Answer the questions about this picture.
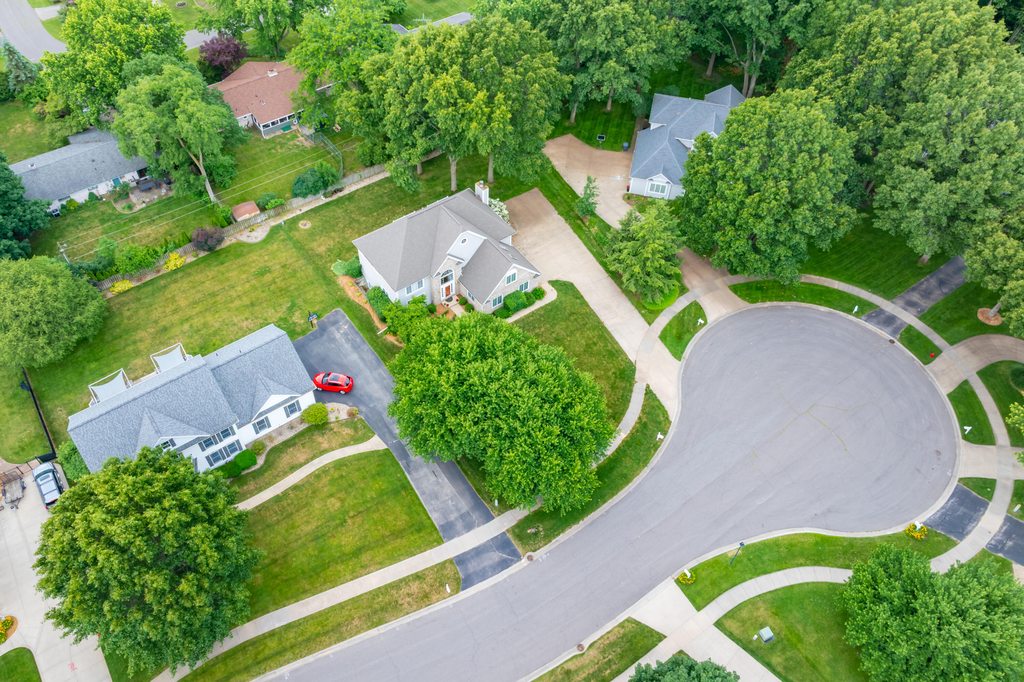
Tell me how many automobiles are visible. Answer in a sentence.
Altogether the scene contains 2 automobiles.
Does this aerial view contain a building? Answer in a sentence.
Yes, the image includes a building.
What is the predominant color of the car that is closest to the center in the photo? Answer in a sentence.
The color of the car that is closest to the center is red.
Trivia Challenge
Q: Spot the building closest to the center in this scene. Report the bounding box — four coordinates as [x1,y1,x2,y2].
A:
[352,179,542,314]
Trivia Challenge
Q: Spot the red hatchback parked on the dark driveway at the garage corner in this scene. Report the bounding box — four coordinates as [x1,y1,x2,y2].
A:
[314,372,353,394]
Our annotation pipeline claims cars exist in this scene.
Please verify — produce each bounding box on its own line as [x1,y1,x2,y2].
[33,467,68,517]
[314,372,353,394]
